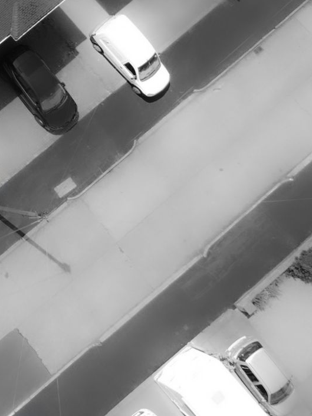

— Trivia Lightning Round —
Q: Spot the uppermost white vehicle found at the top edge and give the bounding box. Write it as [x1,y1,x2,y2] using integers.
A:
[90,10,174,100]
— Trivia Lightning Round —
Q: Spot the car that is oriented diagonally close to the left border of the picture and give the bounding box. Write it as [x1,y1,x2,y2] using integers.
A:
[1,41,82,135]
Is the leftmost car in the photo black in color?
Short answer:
Yes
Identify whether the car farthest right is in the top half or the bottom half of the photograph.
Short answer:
bottom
